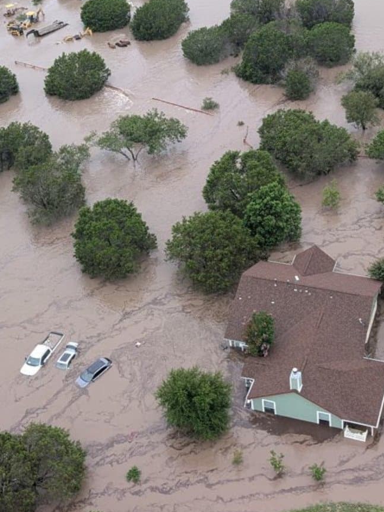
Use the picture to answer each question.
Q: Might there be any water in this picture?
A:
Yes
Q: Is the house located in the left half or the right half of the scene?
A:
right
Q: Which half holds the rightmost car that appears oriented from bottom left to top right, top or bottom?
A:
bottom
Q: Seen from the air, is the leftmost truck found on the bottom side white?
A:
Yes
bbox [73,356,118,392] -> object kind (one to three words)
car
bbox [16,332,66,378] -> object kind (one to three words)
truck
